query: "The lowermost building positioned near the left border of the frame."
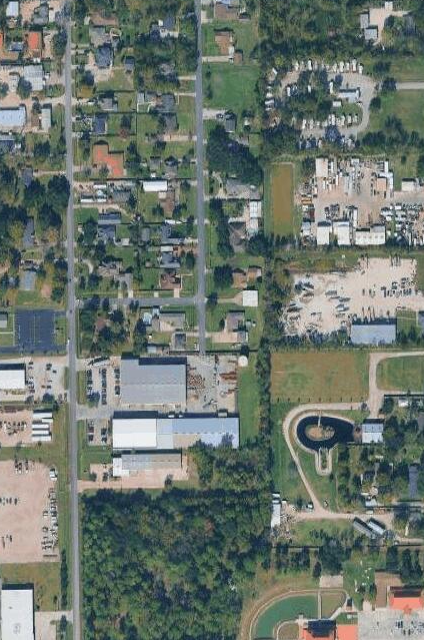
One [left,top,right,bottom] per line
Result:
[0,589,34,640]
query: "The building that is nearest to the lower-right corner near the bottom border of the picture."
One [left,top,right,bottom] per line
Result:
[388,589,424,614]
